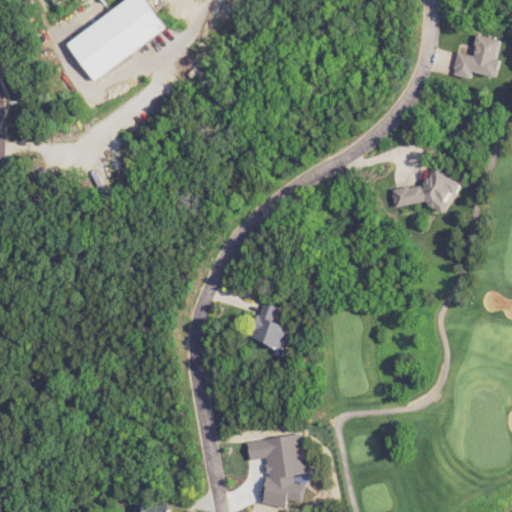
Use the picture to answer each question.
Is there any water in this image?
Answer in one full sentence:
No, there is no water in the image.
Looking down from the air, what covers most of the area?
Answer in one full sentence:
The bulk of the photo consists of trees.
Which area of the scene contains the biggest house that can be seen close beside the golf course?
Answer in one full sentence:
You can find the biggest house that can be seen close beside the golf course in the bottom area of the picture.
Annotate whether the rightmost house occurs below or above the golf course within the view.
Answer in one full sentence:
You can see the rightmost house above the golf course in the frame.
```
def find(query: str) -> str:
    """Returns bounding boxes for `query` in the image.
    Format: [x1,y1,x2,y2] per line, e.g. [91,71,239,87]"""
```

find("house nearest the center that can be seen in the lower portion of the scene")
[252,303,285,349]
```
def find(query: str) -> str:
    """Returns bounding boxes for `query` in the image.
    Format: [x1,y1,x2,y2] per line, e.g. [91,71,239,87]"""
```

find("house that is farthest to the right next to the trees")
[454,33,504,78]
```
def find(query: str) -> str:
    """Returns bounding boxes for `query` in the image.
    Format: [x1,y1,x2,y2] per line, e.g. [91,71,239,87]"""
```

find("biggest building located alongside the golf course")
[247,433,306,508]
